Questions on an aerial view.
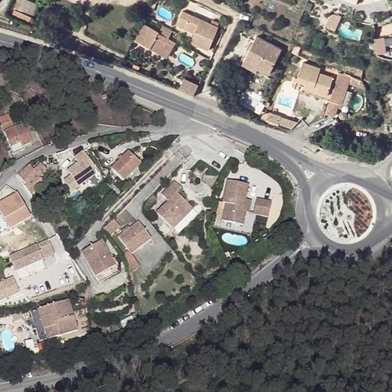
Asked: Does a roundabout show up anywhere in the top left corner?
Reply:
No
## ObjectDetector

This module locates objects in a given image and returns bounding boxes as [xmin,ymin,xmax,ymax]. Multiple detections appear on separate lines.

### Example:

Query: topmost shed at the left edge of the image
[13,0,37,22]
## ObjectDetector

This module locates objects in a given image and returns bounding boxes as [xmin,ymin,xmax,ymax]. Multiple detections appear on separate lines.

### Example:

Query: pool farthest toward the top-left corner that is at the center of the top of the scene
[156,6,174,21]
